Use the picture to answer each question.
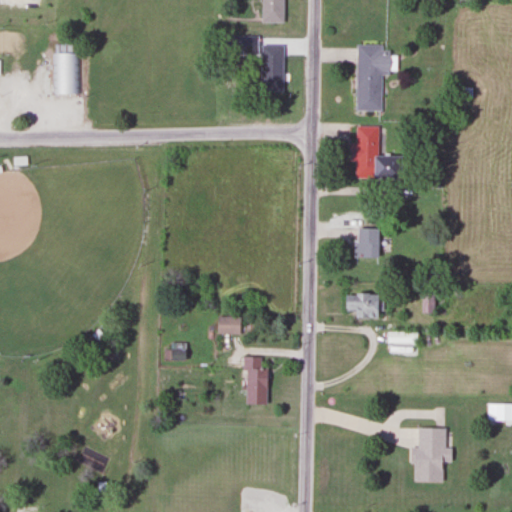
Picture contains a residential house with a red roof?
Yes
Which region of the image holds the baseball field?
left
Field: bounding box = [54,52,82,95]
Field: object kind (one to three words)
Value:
barn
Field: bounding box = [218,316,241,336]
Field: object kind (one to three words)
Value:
building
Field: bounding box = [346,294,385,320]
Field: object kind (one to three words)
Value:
house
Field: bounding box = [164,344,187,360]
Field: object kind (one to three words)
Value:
shed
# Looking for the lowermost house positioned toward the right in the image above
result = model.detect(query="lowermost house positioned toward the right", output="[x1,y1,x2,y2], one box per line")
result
[408,428,454,484]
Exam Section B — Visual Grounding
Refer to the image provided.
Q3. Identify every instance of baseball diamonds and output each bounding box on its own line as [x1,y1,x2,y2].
[0,159,145,358]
